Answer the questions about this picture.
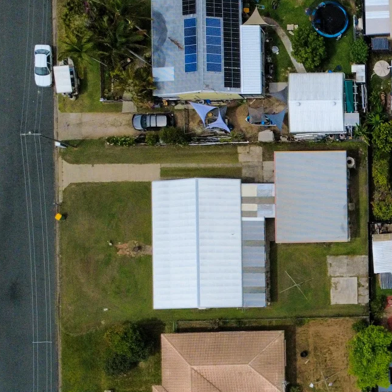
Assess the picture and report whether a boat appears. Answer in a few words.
Yes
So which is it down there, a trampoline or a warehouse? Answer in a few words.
trampoline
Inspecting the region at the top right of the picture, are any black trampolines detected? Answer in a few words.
Yes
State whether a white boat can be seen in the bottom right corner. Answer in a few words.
No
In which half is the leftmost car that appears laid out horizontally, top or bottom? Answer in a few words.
top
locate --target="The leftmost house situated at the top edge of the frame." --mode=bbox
[151,0,269,101]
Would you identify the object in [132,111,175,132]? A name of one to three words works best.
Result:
car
